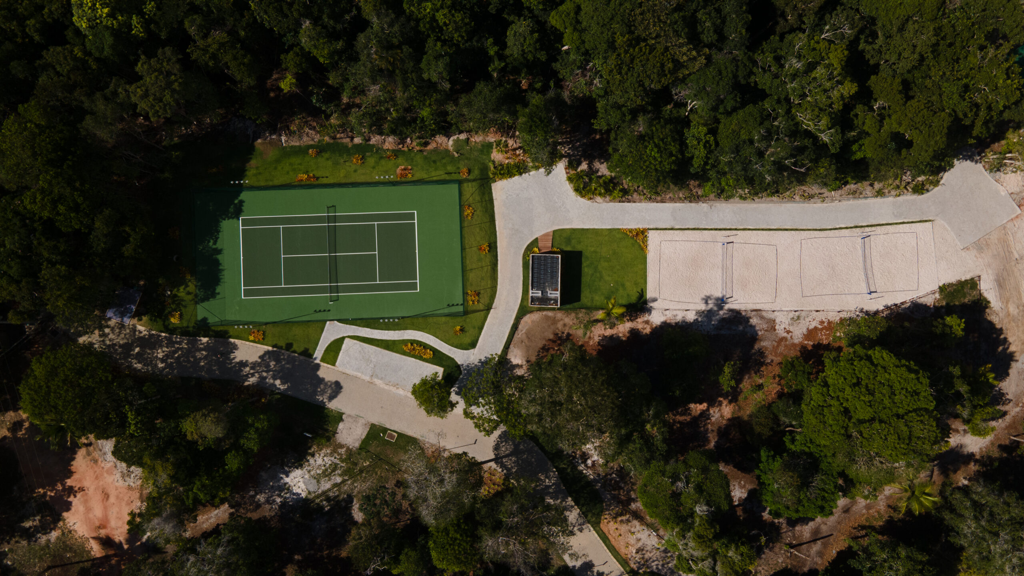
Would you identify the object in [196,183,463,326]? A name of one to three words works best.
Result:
tennis court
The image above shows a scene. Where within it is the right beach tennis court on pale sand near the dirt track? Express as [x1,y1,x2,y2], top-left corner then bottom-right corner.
[789,221,938,310]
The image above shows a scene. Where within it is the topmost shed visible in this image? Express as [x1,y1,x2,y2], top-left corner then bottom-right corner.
[529,255,560,307]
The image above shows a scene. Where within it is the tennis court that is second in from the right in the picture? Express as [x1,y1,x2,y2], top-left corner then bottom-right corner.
[647,230,789,310]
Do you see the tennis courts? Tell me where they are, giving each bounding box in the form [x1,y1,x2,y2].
[196,183,463,326]
[789,221,938,310]
[647,230,789,310]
